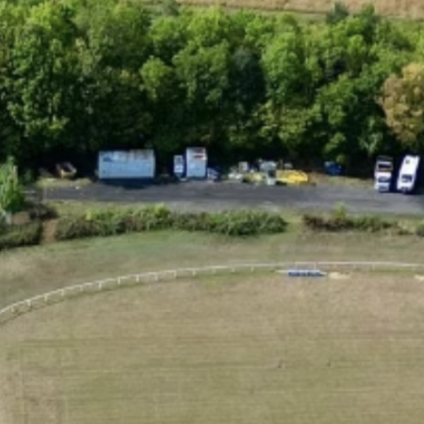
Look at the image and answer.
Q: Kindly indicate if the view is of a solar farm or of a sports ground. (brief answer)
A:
sports ground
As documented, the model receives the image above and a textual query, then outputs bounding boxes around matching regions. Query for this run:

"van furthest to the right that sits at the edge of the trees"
[396,152,424,189]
